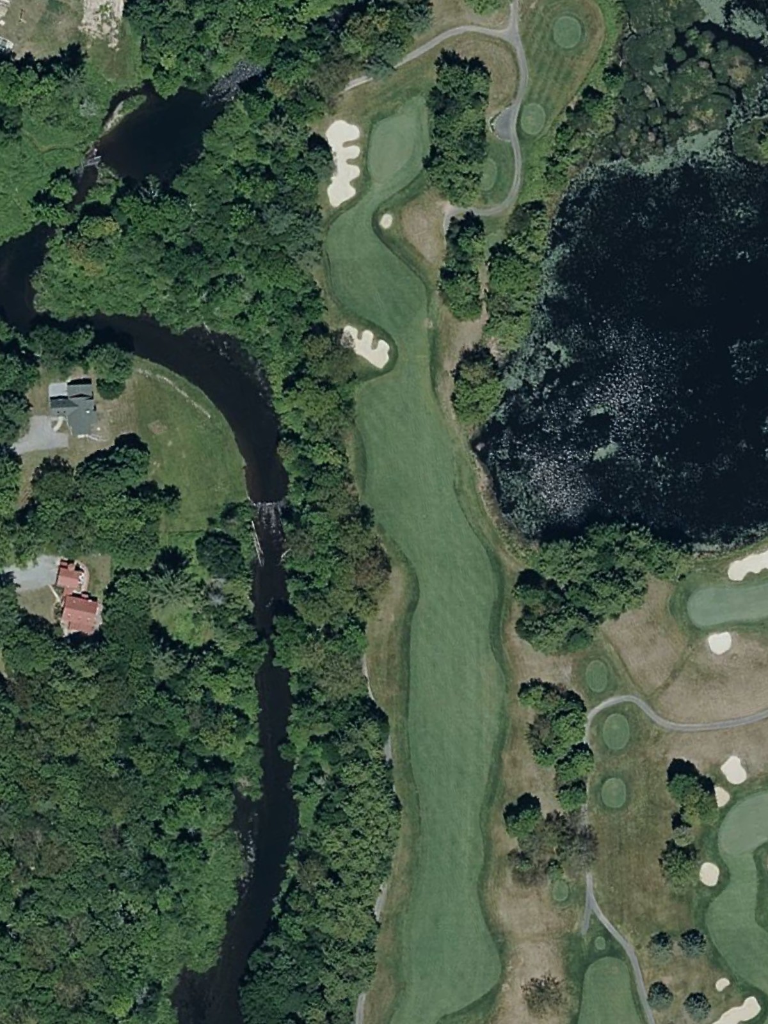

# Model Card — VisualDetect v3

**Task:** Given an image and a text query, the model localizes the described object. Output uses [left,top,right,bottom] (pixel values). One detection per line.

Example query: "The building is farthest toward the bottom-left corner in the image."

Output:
[54,560,100,637]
